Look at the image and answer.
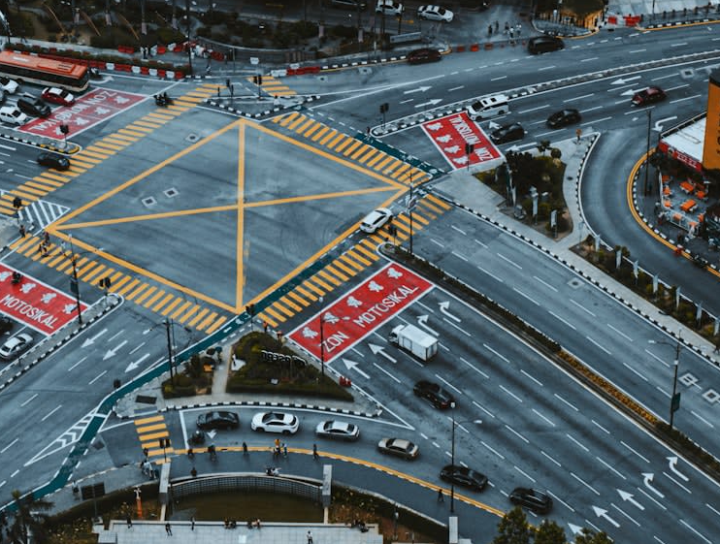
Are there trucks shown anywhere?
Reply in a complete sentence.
Yes, the frame does contain a truck.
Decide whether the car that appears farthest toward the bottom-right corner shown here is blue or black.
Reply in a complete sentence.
The color of the car that appears farthest toward the bottom-right corner is black.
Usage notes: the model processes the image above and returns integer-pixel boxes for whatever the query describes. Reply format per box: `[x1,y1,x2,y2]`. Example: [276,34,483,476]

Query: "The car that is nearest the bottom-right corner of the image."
[504,487,557,518]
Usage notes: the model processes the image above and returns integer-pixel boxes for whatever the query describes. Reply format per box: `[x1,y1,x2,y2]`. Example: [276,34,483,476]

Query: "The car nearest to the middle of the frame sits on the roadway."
[357,209,394,236]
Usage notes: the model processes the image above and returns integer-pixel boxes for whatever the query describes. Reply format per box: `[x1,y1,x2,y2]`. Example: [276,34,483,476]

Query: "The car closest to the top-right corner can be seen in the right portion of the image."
[628,89,670,108]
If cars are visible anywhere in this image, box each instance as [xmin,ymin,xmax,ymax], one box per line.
[0,106,30,126]
[35,153,72,173]
[489,124,527,144]
[0,91,9,104]
[373,437,425,463]
[0,76,19,94]
[0,317,15,338]
[0,333,36,363]
[404,48,445,66]
[195,411,243,432]
[504,487,557,518]
[250,411,299,435]
[313,419,364,444]
[14,93,55,118]
[628,89,670,108]
[412,382,457,412]
[415,7,455,24]
[38,89,78,107]
[527,36,566,56]
[438,466,491,493]
[544,110,586,131]
[357,209,394,236]
[467,92,510,118]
